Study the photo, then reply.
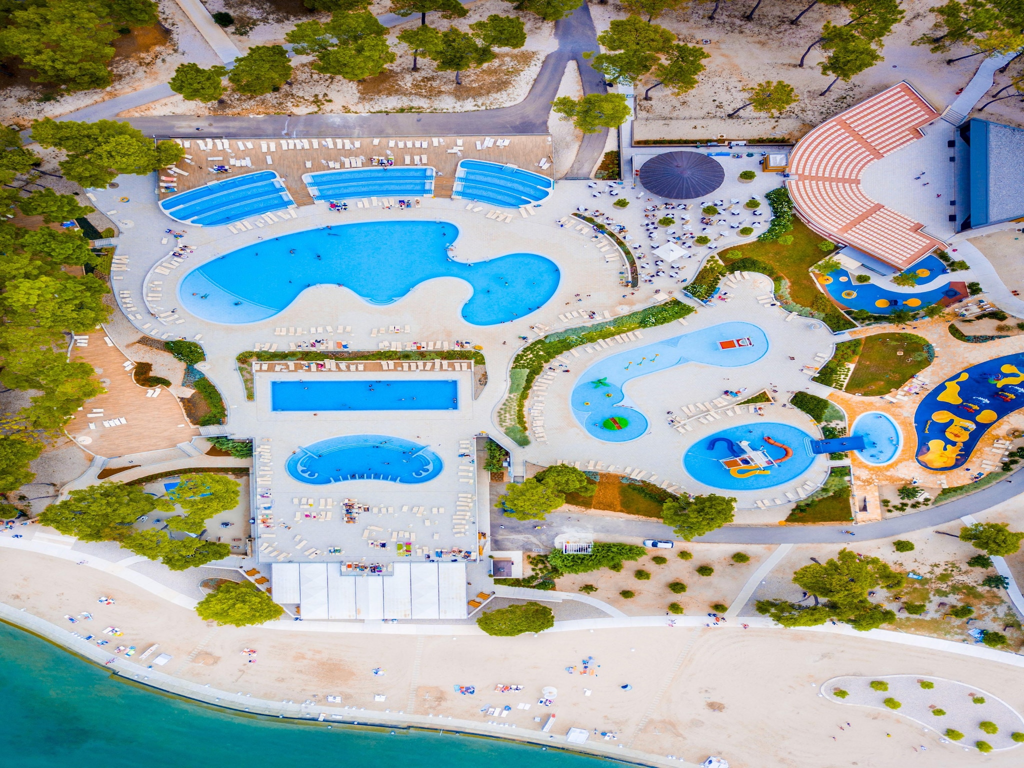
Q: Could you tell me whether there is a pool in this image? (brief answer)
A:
Yes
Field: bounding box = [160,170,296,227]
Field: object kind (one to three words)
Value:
swimming pool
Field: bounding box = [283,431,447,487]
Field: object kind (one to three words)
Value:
swimming pool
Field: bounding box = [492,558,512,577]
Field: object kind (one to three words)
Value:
shed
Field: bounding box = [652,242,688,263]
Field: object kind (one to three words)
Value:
umbrella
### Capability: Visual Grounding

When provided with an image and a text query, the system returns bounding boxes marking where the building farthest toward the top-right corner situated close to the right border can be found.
[953,106,1024,235]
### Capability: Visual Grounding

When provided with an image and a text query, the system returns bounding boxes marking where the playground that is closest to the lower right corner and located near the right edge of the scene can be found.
[914,352,1024,471]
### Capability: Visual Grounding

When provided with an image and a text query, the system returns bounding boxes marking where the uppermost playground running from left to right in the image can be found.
[810,255,969,316]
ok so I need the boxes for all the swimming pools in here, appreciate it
[851,409,905,469]
[176,216,565,330]
[680,418,823,494]
[568,318,772,445]
[303,167,435,203]
[283,431,447,487]
[266,377,462,414]
[160,170,296,227]
[451,160,553,209]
